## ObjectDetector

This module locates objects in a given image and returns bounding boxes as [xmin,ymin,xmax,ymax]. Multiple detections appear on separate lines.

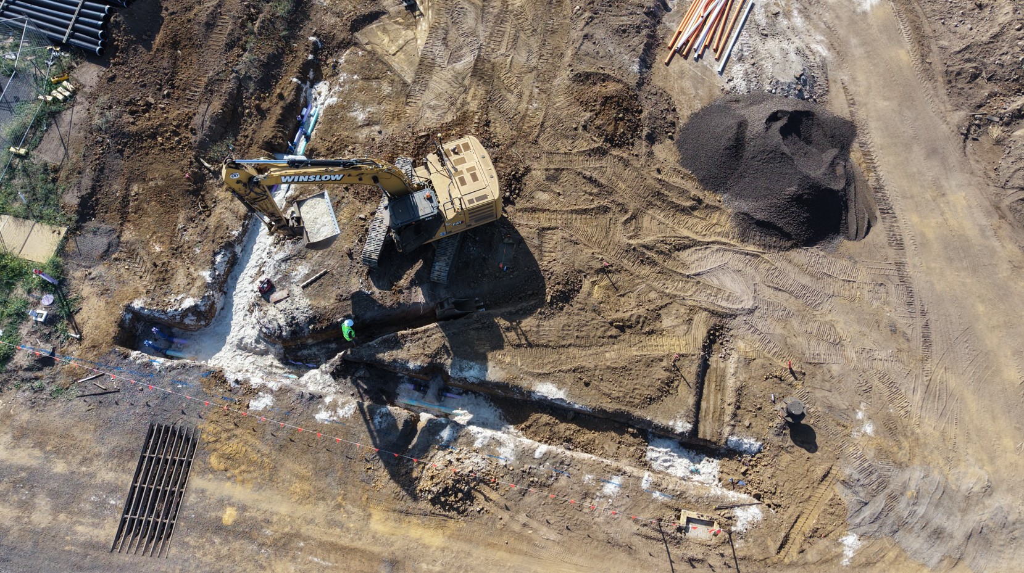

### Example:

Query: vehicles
[217,131,505,285]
